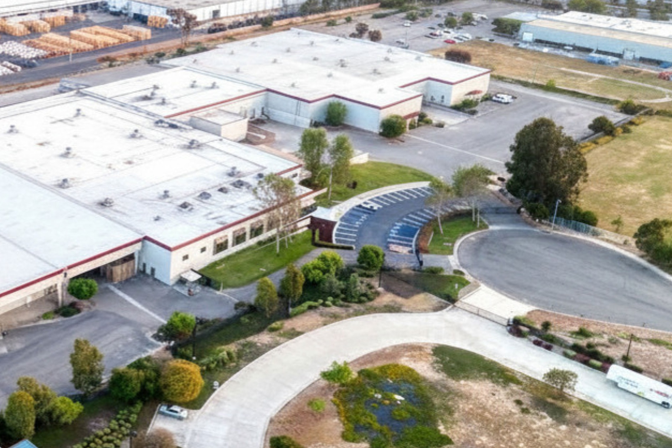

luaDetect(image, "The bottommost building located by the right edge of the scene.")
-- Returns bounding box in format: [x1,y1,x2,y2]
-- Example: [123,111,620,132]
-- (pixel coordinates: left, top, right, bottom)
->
[516,14,672,74]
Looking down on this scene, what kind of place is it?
industrial area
